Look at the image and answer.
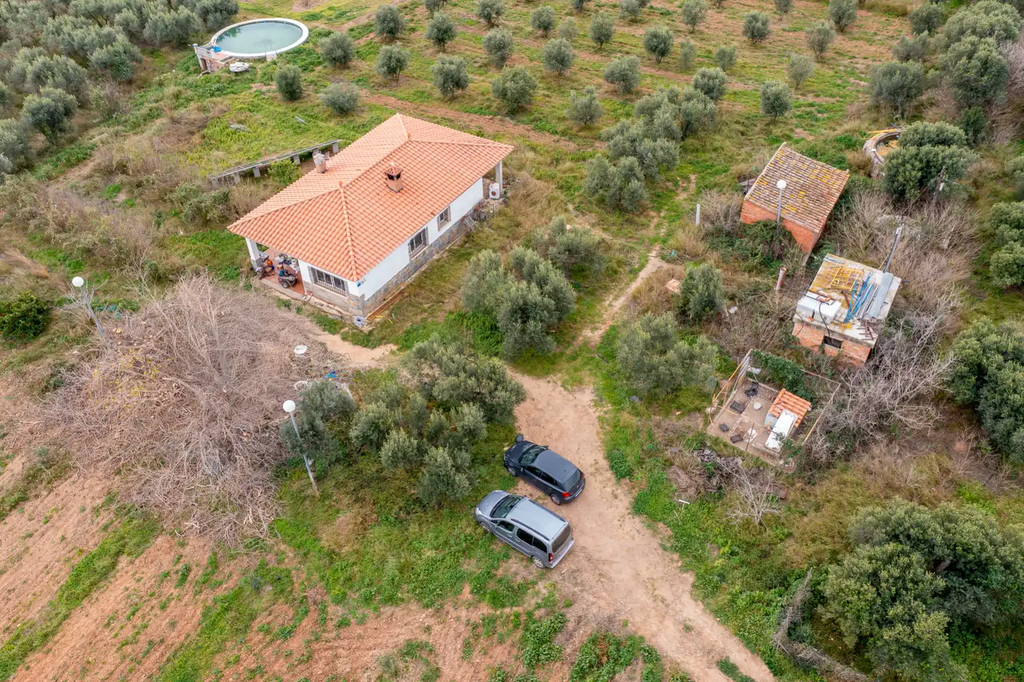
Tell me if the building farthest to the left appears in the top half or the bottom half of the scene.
top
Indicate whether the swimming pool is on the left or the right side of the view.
left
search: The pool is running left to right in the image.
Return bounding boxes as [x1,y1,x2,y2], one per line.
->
[214,18,308,64]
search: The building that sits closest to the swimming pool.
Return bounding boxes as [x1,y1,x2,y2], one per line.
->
[179,33,236,69]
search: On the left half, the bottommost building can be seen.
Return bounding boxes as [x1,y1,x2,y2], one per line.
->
[227,112,514,319]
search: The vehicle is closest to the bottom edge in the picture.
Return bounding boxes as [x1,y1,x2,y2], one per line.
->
[473,487,576,570]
